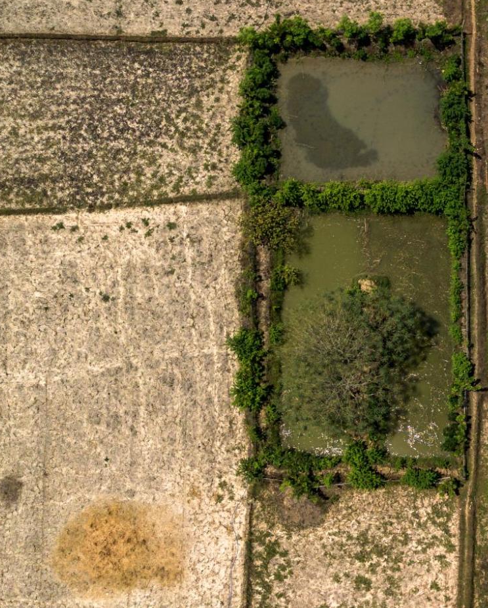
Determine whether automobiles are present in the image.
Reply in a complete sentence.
No, there appears to be no automobile in this shot.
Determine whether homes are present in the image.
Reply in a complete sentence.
No, there's no home here.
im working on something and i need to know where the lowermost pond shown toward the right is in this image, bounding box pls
[281,212,452,458]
